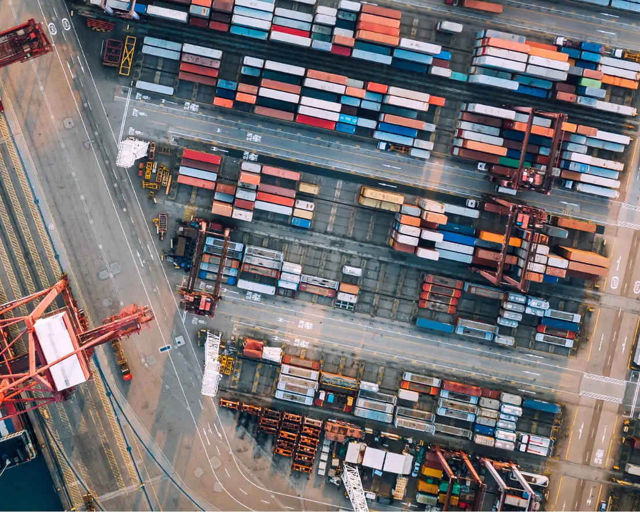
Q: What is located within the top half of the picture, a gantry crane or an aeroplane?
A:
gantry crane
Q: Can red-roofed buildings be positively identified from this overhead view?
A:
No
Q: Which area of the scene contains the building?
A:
bottom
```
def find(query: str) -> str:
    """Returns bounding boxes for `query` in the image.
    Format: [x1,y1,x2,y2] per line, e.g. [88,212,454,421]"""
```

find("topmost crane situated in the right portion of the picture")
[487,108,567,203]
